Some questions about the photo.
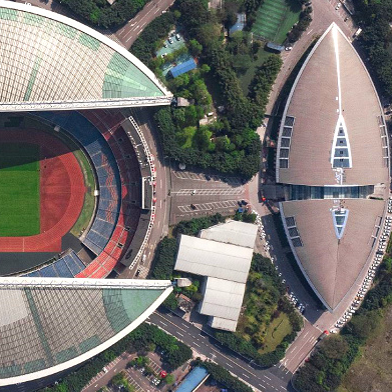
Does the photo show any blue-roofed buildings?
Yes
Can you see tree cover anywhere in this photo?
Yes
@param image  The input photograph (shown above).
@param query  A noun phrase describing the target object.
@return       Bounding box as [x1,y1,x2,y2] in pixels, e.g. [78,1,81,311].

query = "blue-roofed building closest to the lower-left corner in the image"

[171,364,209,392]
